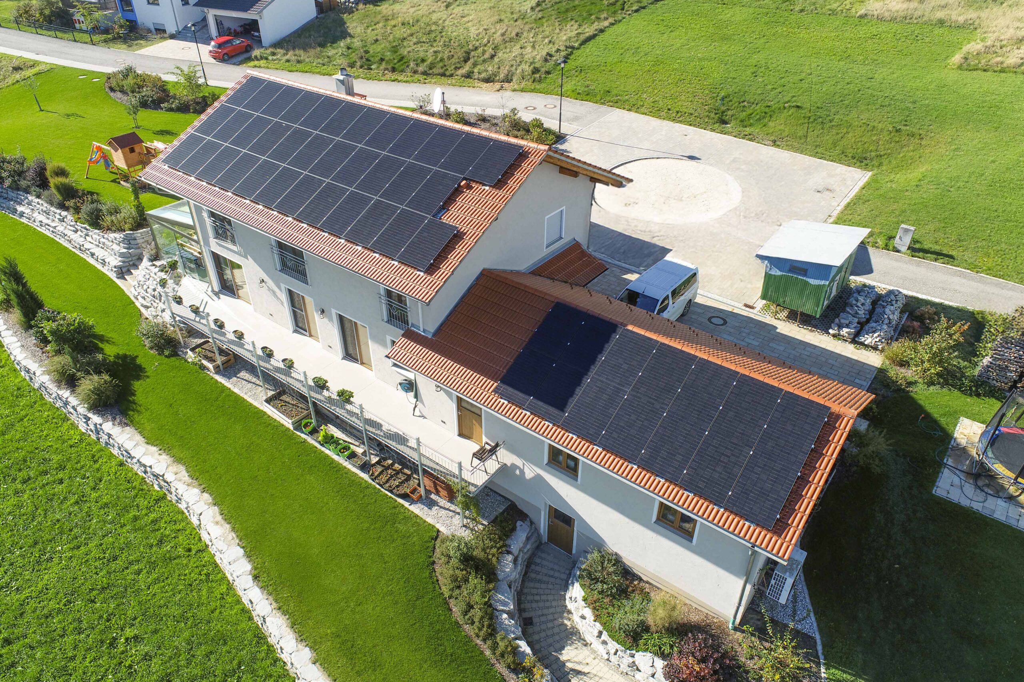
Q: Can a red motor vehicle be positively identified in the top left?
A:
Yes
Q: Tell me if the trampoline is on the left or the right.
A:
right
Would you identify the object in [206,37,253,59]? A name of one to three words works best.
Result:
car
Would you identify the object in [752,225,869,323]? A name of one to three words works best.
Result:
shed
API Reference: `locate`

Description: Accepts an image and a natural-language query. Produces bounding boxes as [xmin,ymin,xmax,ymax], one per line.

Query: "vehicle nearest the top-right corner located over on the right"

[622,258,701,319]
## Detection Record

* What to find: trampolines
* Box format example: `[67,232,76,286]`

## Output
[971,384,1024,507]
